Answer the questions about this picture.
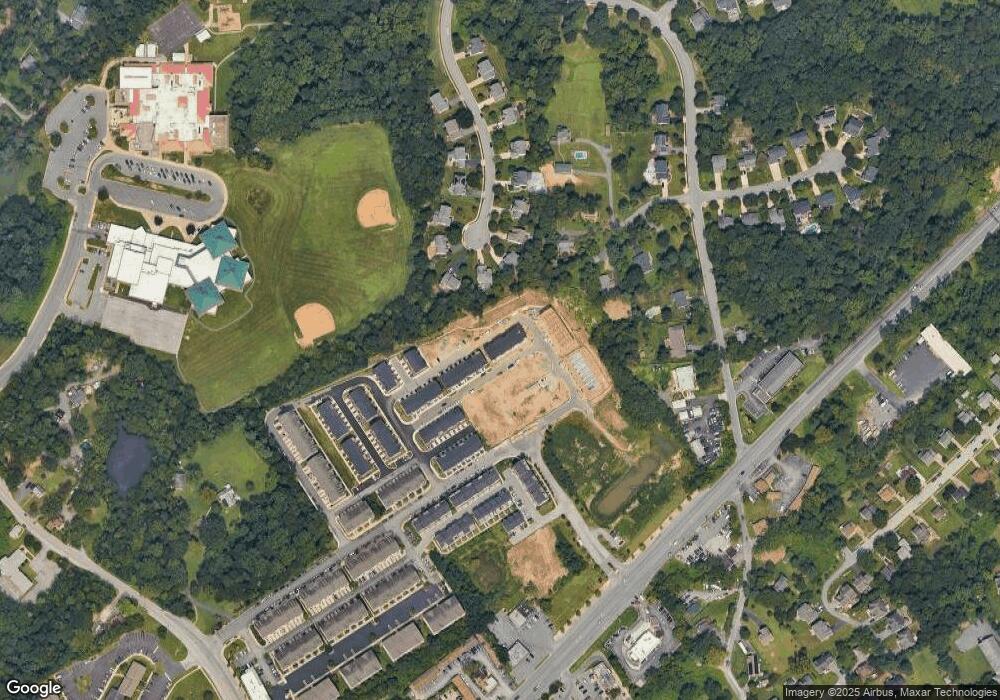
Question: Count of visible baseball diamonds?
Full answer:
In total, 2 baseball diamonds can be seen.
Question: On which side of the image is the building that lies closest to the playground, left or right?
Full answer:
You can find the building that lies closest to the playground on the left side of the picture.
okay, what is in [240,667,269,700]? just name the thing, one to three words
building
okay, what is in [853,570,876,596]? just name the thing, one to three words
house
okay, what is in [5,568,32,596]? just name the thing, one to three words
building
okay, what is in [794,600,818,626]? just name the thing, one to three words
house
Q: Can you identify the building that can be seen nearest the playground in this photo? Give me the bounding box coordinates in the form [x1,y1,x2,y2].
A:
[114,62,229,153]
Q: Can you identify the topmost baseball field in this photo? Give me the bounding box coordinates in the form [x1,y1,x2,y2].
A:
[322,150,400,231]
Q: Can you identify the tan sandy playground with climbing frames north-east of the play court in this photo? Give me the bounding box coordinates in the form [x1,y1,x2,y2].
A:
[218,5,241,31]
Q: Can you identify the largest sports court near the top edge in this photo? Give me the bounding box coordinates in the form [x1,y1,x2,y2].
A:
[148,2,207,56]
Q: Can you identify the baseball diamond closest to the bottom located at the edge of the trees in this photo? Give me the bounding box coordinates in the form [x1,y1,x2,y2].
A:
[294,272,366,347]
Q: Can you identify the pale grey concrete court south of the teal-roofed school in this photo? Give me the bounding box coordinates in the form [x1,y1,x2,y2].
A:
[102,296,188,351]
